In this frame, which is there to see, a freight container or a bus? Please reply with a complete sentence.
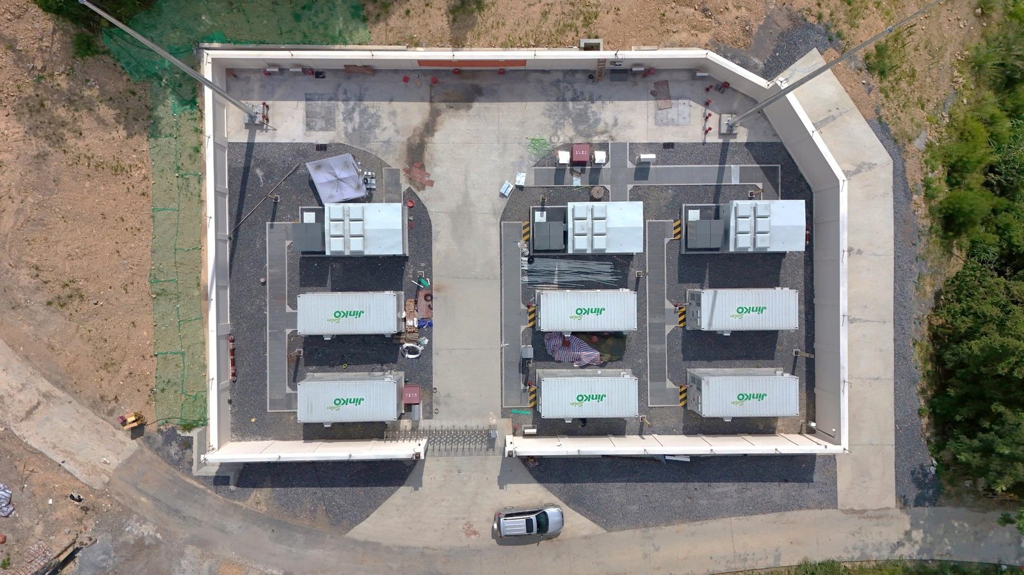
It is a freight container that can be seen here.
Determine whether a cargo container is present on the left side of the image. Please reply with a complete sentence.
Yes, on the left side of the image there is a cargo container.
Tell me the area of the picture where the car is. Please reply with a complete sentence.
The car is in the bottom part of the image.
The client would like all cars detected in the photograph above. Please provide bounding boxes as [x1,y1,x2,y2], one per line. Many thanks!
[493,504,562,540]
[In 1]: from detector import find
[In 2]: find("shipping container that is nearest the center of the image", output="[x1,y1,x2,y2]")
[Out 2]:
[533,285,637,337]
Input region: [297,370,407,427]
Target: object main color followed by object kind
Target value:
white shipping container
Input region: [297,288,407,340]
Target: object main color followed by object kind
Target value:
white shipping container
